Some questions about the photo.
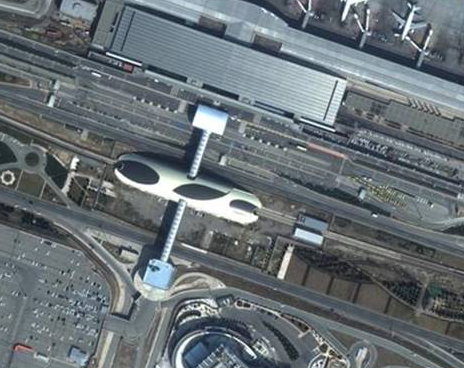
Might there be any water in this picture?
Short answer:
No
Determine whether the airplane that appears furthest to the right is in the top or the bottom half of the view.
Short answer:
top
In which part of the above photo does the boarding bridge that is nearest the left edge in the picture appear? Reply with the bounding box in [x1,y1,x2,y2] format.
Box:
[297,0,314,29]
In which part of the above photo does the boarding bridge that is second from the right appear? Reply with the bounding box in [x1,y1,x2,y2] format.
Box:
[354,9,372,49]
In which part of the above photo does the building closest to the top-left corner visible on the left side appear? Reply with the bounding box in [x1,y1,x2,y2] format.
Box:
[59,0,99,23]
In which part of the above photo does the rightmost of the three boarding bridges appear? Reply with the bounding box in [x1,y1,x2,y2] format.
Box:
[405,29,434,67]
